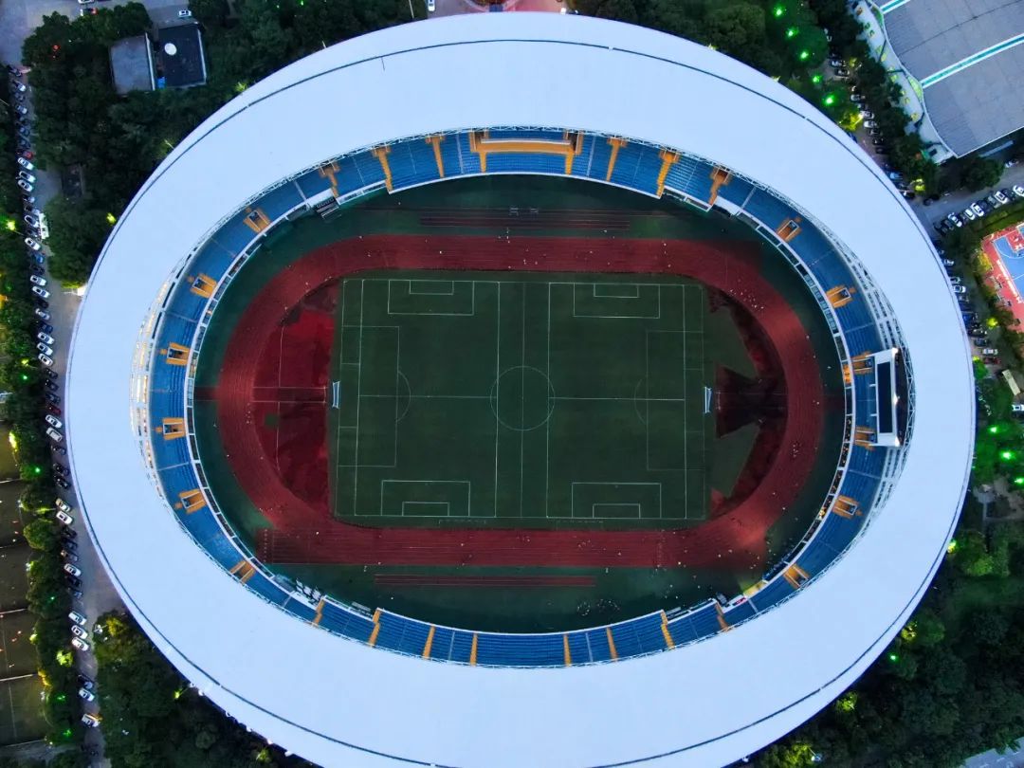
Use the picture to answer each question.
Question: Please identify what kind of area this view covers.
sports ground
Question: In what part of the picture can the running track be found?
center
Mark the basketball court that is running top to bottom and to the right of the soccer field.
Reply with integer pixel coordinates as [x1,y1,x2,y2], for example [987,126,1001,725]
[982,223,1024,332]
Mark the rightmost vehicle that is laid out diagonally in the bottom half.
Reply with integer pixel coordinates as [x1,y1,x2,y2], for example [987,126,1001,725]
[714,589,729,606]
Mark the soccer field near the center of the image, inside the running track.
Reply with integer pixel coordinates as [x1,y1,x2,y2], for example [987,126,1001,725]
[329,270,712,530]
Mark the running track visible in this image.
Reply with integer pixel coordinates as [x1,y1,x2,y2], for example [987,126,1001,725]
[194,175,846,635]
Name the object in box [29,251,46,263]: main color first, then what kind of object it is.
blue vehicle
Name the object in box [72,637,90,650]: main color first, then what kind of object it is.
white vehicle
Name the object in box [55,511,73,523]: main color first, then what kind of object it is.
white vehicle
